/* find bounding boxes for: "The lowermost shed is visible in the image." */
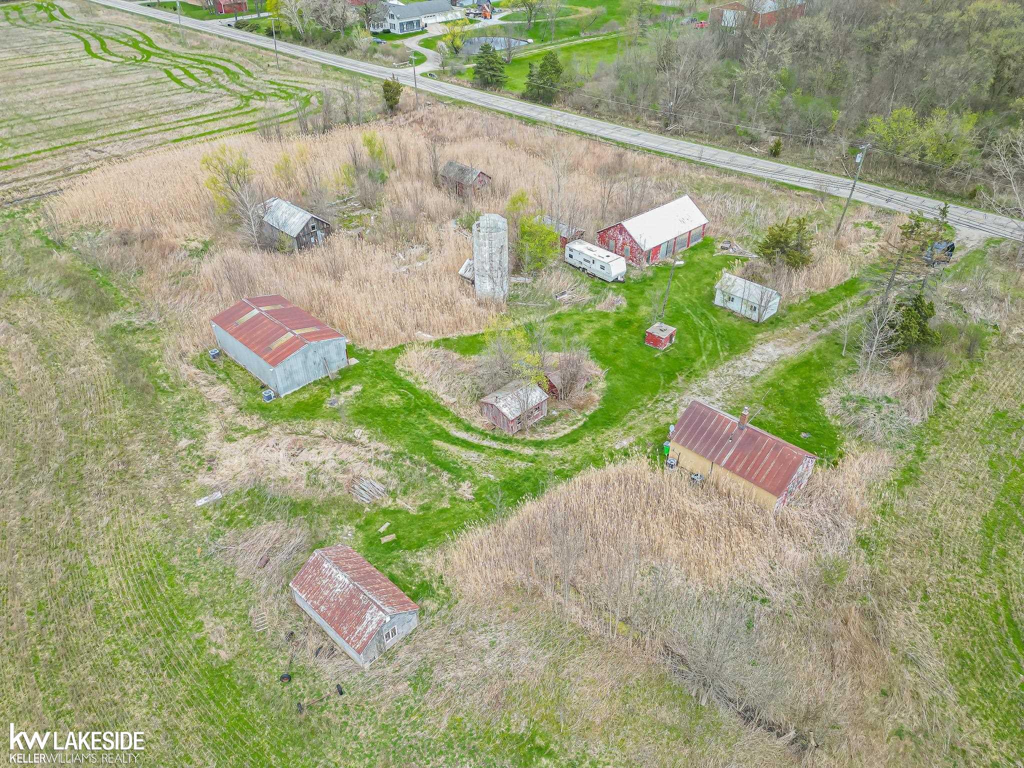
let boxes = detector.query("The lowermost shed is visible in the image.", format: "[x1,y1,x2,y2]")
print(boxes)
[290,546,419,669]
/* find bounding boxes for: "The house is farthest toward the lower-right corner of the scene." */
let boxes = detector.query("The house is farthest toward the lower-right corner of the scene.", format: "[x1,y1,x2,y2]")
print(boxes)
[666,401,820,512]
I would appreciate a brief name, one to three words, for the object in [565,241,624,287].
trailer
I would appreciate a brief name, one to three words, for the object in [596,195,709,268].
barn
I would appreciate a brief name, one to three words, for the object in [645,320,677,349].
building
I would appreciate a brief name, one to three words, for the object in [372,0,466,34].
house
